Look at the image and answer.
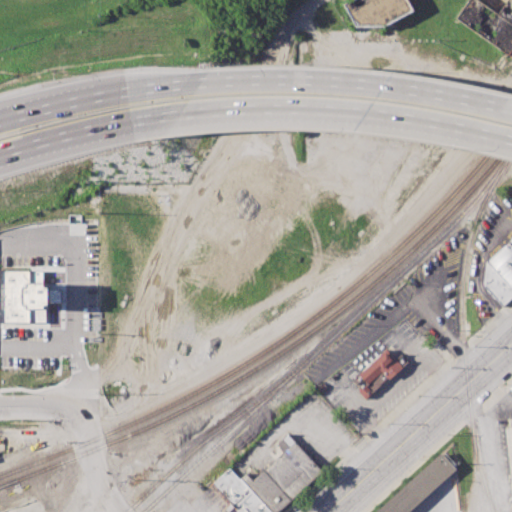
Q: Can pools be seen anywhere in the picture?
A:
No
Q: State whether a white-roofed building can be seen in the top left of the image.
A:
No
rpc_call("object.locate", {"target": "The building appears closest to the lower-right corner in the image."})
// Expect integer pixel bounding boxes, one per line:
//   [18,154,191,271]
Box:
[379,454,458,512]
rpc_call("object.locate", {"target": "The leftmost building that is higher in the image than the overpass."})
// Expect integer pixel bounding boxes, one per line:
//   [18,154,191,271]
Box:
[344,0,414,30]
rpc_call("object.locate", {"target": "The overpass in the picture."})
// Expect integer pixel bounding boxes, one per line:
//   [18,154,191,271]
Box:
[0,66,512,181]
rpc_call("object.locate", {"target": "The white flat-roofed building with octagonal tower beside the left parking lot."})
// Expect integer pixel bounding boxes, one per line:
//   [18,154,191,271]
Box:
[4,271,62,323]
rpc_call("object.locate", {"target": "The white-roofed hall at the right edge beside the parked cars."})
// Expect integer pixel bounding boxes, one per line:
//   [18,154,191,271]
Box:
[482,246,512,304]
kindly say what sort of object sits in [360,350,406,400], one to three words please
building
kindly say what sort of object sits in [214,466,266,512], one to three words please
building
